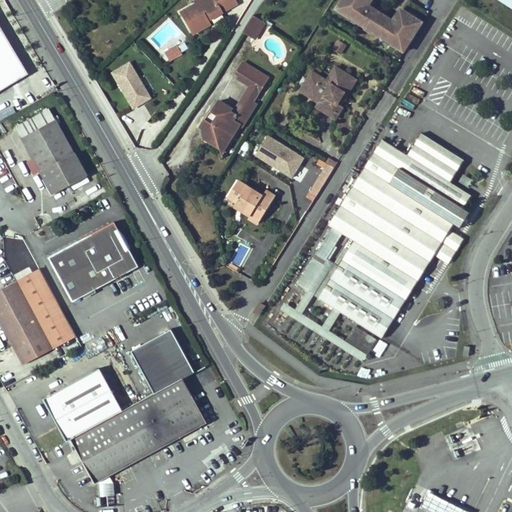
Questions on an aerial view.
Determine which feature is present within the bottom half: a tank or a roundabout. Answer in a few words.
roundabout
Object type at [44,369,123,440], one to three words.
building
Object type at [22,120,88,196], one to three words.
building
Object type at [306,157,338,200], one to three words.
shed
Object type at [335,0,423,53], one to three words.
house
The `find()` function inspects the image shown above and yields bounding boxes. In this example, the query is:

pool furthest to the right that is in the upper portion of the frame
[250,34,288,64]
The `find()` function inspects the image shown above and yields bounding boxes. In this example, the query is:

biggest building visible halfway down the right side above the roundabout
[318,140,470,338]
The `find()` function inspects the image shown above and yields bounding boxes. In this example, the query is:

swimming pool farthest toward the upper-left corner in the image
[147,18,187,60]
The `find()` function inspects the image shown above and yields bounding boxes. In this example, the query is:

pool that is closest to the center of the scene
[231,242,252,268]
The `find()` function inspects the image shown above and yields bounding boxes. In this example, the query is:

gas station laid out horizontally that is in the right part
[419,490,478,512]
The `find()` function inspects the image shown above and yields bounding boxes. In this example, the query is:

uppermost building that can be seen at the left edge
[0,25,28,92]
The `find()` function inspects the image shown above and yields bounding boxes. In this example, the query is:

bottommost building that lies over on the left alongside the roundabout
[72,380,207,482]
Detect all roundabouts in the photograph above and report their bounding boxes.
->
[254,394,366,506]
